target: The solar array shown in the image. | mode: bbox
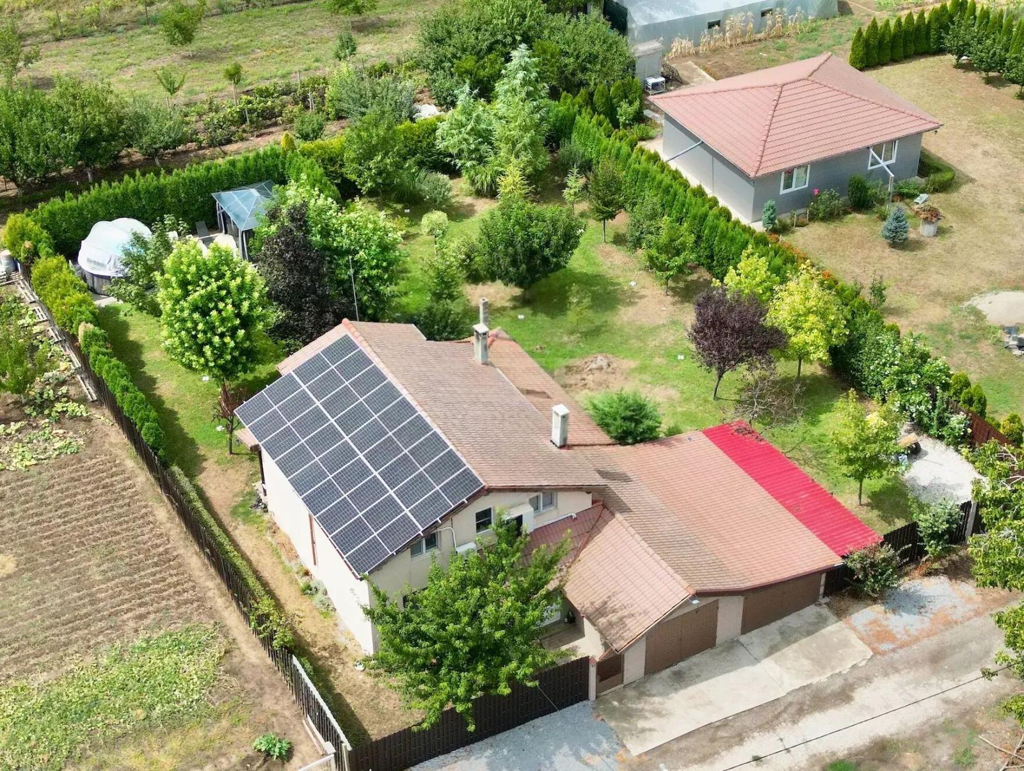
[236,334,484,576]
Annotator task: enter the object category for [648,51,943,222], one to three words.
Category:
house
